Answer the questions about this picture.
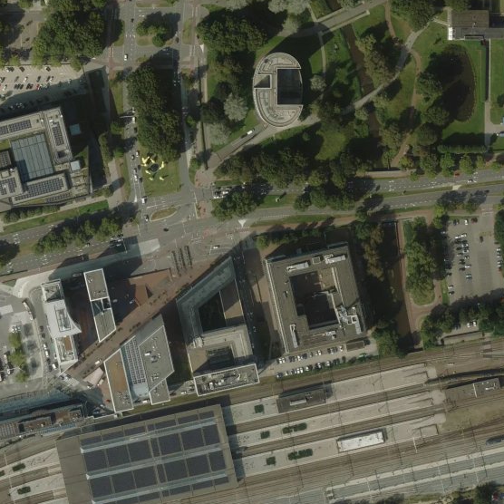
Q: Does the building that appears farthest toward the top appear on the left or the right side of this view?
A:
right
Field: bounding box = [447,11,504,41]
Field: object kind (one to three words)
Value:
building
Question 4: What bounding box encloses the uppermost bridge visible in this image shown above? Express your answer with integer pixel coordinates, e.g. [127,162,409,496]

[318,0,368,29]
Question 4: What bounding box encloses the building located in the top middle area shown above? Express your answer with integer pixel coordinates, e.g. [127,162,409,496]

[253,53,302,128]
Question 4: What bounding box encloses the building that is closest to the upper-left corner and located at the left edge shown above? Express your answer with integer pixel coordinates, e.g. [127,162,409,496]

[0,108,92,211]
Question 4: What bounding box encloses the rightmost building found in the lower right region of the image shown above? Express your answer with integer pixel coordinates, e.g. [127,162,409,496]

[472,377,499,398]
